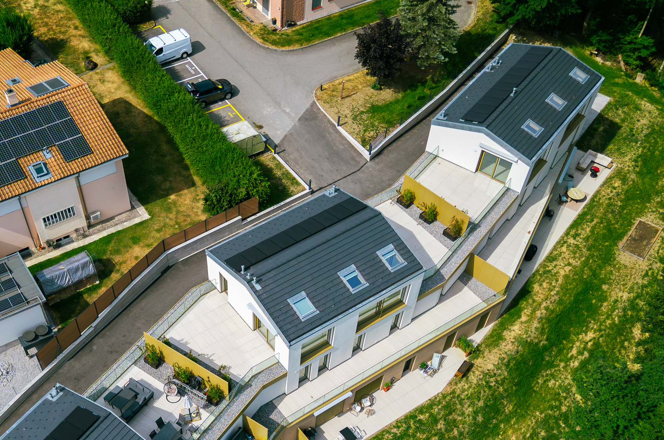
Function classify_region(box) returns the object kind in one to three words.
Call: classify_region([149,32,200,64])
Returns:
van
